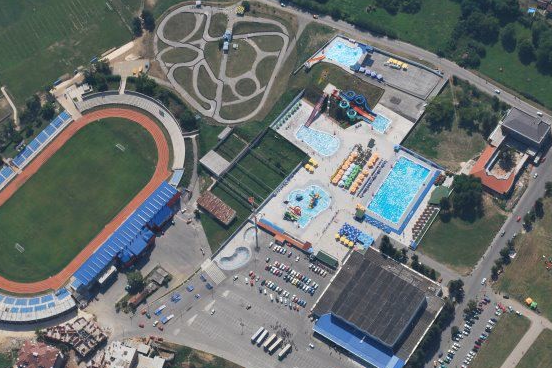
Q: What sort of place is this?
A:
sports ground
